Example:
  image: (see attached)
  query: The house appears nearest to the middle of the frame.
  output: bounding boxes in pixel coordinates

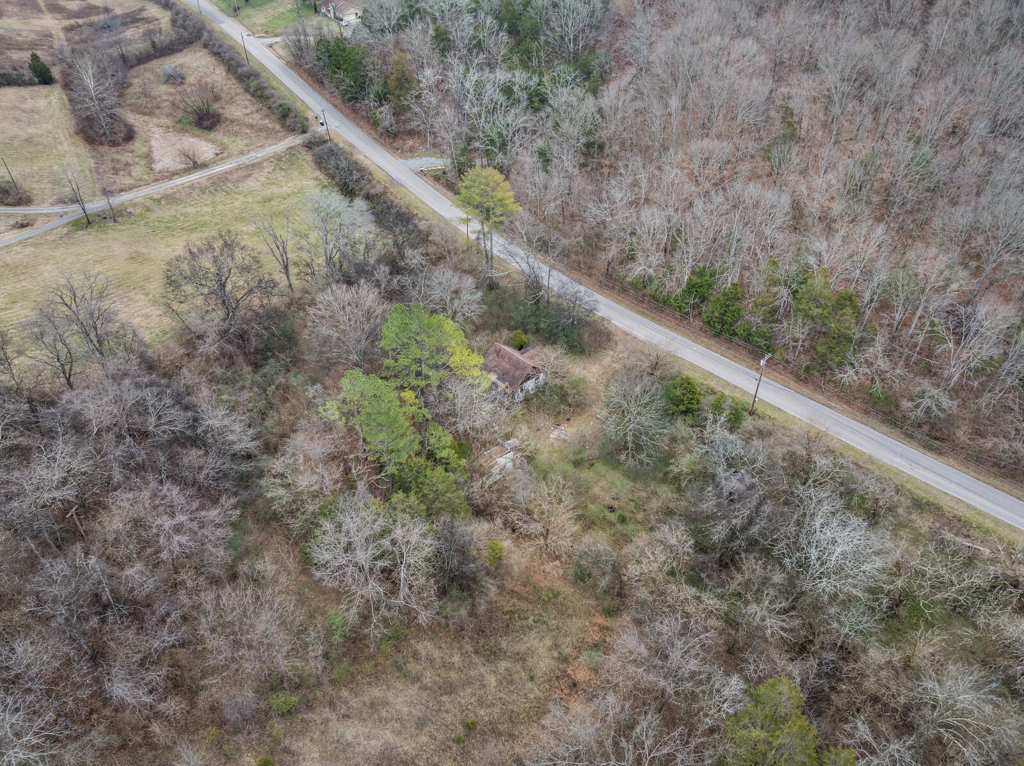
[478,346,545,406]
